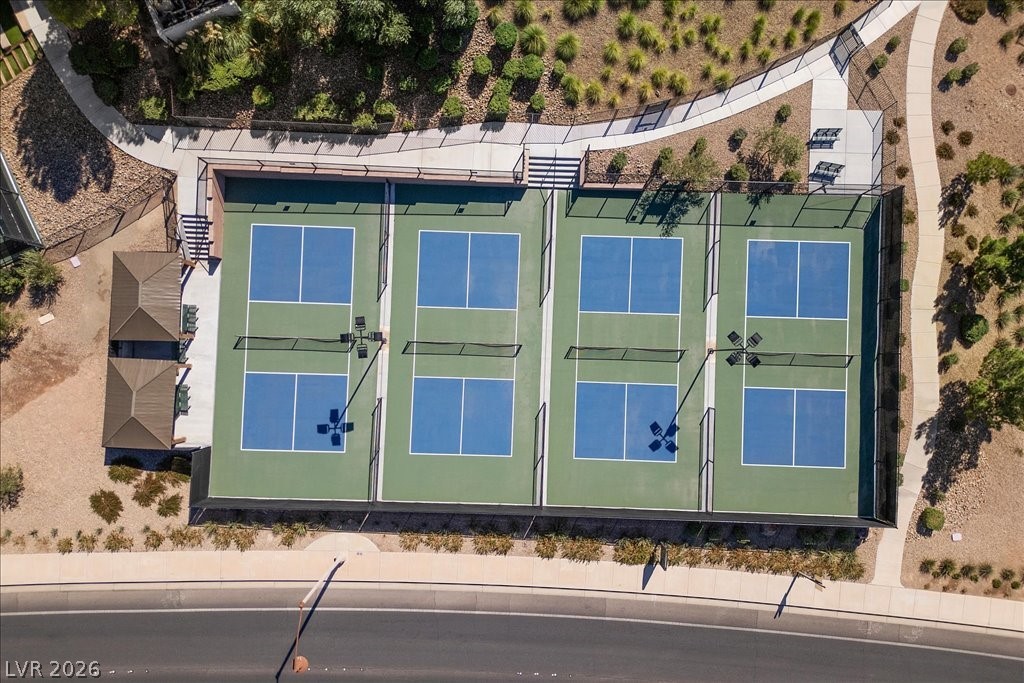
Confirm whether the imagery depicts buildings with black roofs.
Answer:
No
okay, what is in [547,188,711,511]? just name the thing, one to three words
sports court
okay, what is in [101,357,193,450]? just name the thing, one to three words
building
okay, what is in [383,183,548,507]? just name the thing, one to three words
sports court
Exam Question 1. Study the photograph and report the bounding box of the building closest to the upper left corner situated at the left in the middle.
[106,251,197,341]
